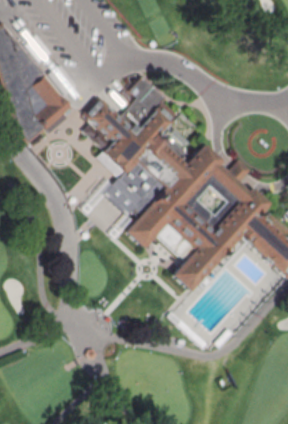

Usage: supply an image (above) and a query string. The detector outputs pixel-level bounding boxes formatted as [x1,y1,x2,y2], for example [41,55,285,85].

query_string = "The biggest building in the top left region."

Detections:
[28,77,70,134]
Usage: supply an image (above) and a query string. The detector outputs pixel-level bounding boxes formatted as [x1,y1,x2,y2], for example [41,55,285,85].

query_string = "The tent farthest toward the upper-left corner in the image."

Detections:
[20,24,52,62]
